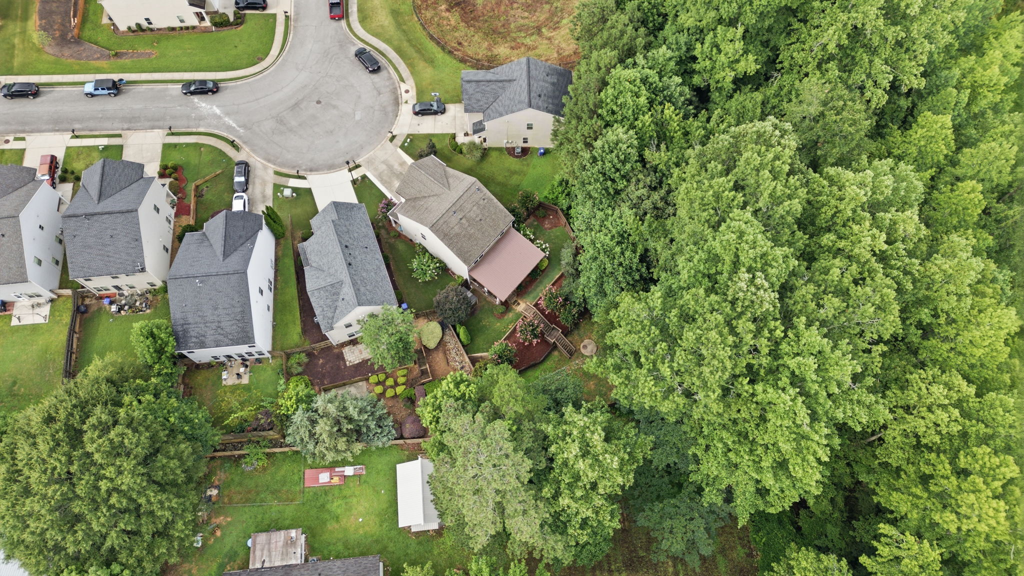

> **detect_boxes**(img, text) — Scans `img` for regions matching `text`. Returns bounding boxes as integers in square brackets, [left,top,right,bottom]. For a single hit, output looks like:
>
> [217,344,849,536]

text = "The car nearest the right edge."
[409,99,446,117]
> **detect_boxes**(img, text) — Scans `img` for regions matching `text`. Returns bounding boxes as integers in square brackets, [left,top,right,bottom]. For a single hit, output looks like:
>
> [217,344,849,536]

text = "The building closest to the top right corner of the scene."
[461,56,574,147]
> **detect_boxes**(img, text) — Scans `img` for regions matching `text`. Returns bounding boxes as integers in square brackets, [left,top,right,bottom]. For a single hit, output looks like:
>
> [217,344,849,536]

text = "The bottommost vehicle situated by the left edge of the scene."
[35,153,62,186]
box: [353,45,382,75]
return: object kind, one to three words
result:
car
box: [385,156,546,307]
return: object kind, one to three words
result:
house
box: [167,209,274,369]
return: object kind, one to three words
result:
house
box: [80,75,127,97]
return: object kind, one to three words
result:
car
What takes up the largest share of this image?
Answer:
trees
